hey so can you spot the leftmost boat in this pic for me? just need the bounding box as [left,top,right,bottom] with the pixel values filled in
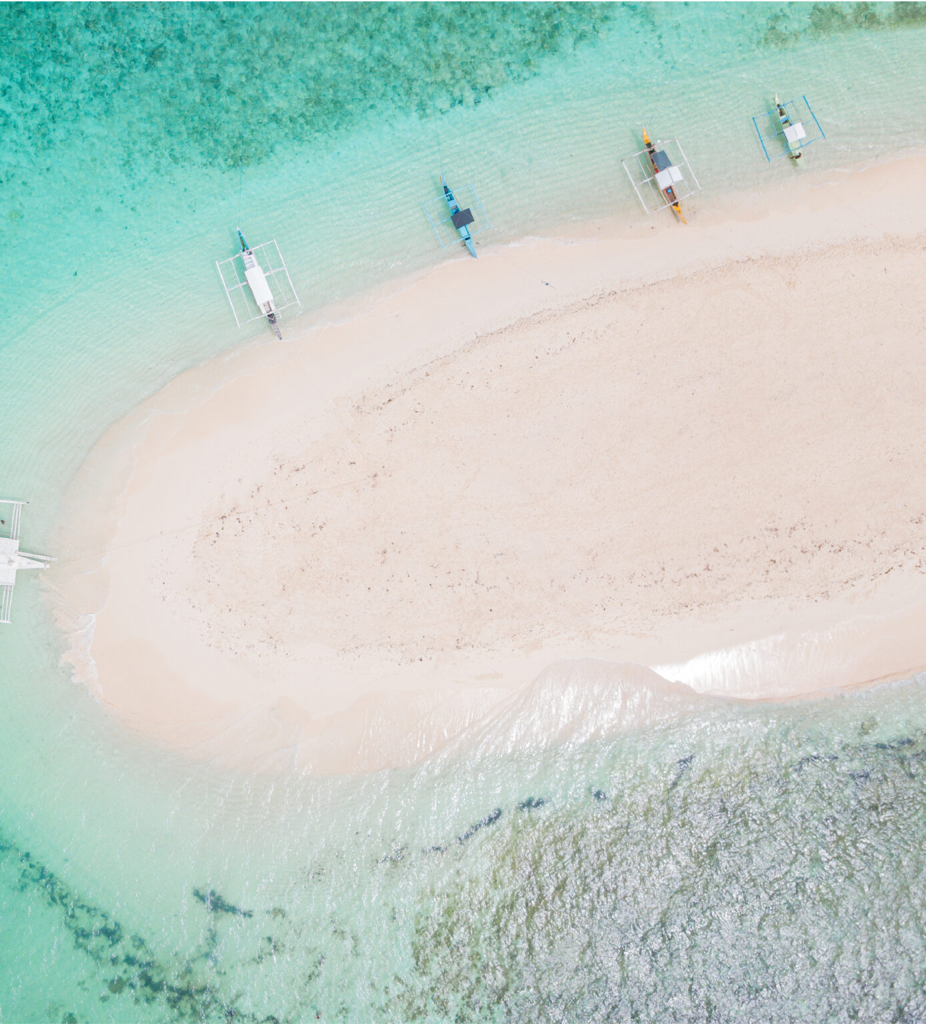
[0,500,59,624]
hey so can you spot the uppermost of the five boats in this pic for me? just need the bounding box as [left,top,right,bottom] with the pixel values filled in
[753,93,826,170]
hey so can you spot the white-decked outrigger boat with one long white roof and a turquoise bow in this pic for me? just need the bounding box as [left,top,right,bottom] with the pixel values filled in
[216,228,301,339]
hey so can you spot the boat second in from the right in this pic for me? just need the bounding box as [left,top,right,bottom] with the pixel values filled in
[622,126,701,225]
